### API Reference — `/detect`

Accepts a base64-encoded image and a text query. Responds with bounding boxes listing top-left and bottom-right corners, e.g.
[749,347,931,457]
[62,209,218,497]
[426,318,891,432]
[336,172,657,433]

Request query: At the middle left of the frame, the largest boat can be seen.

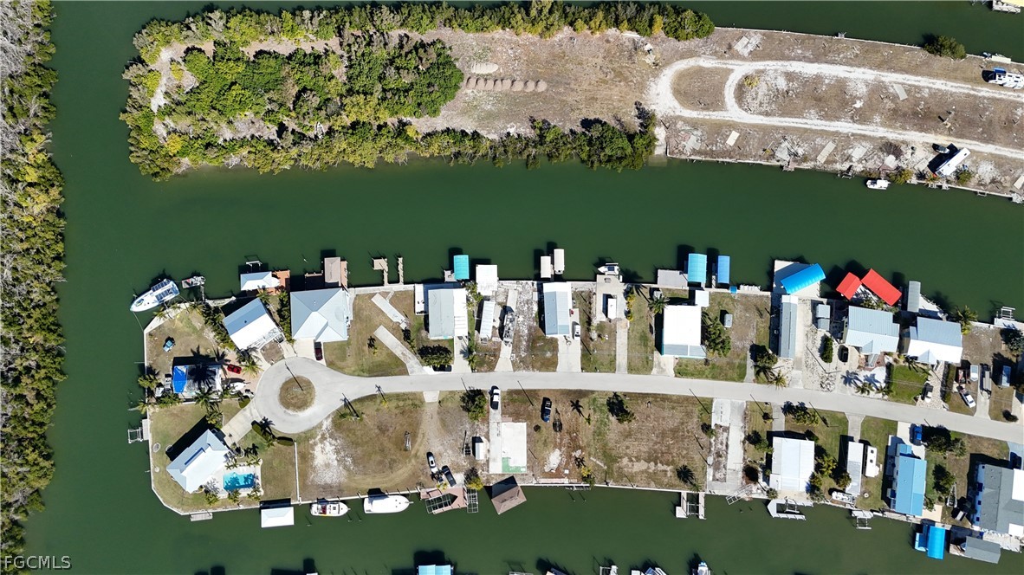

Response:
[129,281,182,312]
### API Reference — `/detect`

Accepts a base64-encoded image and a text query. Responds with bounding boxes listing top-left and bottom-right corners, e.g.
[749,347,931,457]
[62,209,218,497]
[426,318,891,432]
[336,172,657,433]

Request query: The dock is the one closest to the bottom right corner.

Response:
[982,535,1022,553]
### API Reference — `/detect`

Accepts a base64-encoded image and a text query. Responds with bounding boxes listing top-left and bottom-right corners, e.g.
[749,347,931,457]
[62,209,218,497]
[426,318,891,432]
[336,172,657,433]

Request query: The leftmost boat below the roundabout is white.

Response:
[311,502,353,517]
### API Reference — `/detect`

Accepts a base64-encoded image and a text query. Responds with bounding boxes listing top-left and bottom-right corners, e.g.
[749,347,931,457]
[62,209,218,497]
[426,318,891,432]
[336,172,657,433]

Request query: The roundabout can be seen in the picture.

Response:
[257,356,373,433]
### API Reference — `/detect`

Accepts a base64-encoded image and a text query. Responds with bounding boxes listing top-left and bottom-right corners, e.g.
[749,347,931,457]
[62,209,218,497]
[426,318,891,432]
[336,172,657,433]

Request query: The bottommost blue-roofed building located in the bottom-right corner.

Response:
[920,525,945,560]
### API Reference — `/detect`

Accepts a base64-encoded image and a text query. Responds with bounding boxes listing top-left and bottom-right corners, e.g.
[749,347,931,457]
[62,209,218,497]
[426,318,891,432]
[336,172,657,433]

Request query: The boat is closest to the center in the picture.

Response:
[504,311,516,343]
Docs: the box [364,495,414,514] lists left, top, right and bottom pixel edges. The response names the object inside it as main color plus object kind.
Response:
white boat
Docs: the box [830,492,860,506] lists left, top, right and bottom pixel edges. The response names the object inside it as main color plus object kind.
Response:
white boat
